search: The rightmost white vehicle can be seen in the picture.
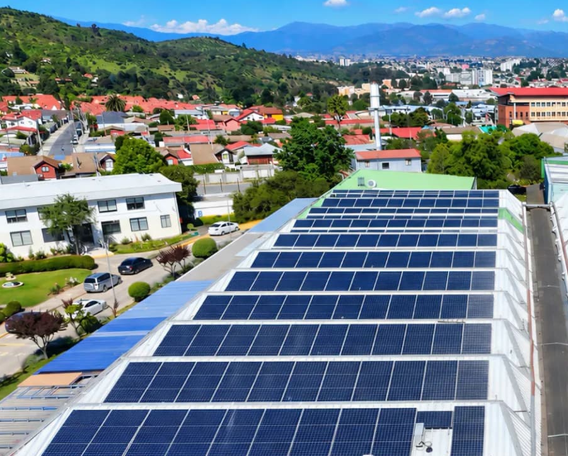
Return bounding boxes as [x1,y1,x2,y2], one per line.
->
[208,221,237,234]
